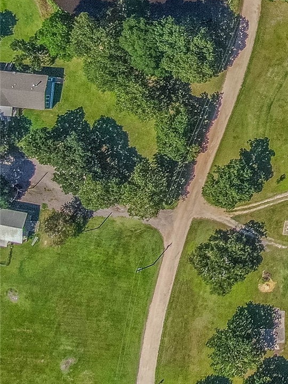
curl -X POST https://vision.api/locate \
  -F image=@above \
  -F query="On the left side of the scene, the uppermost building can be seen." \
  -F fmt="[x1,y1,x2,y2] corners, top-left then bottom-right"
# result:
[0,71,63,110]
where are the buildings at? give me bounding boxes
[0,211,33,245]
[0,71,63,110]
